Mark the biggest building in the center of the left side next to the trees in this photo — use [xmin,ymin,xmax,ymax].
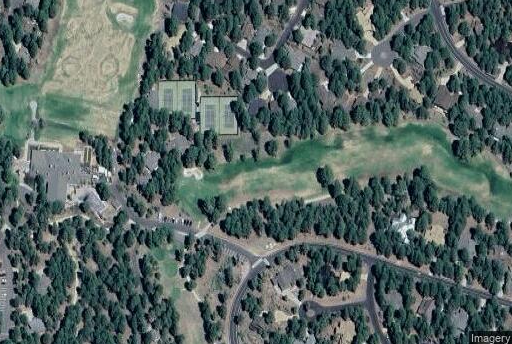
[31,150,93,203]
